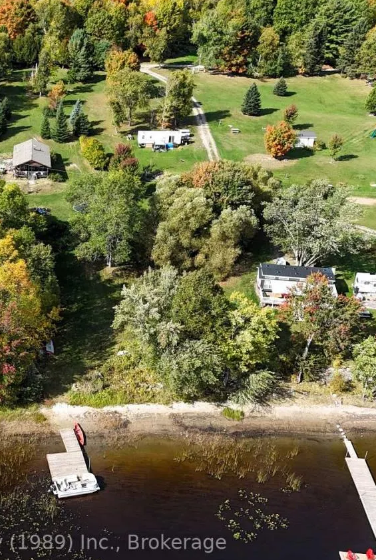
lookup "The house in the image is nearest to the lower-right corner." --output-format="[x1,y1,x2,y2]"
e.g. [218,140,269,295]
[256,264,347,315]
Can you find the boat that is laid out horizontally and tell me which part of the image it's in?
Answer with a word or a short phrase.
bottom left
